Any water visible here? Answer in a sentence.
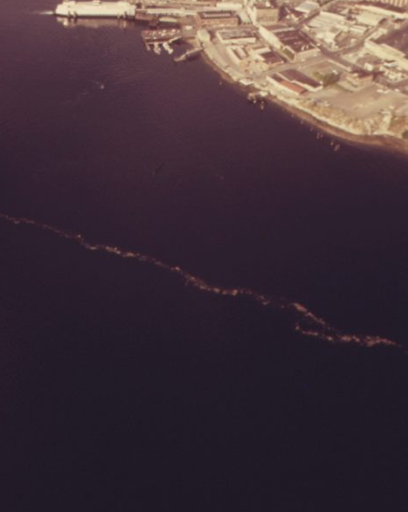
Yes, the picture does contain water.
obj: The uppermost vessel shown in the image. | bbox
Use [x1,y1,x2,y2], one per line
[55,2,135,20]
